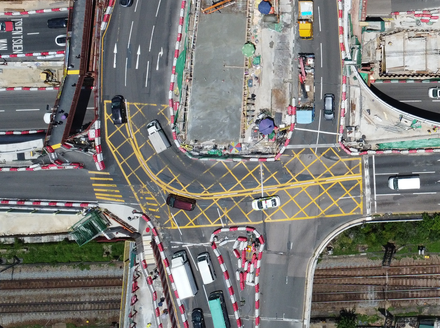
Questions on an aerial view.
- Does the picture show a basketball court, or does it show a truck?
truck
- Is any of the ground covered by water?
No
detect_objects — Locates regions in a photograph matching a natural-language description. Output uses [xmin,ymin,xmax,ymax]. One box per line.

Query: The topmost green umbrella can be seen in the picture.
[242,43,256,57]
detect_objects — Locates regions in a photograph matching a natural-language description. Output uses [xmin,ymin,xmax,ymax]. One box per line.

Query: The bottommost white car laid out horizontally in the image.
[252,196,281,210]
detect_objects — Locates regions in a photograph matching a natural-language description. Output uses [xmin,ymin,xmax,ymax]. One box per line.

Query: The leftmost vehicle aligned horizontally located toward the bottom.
[166,193,199,211]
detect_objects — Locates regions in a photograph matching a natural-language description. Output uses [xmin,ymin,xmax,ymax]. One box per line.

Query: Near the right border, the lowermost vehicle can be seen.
[388,177,420,190]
